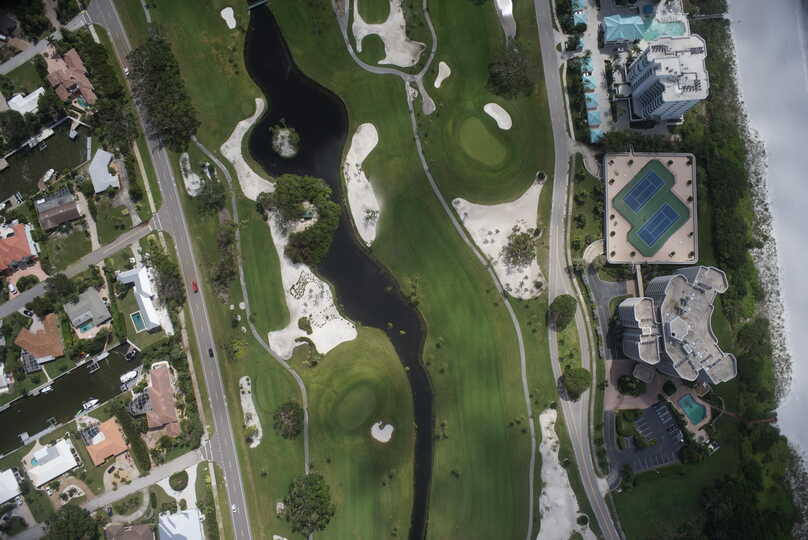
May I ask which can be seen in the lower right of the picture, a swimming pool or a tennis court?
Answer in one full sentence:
It is a swimming pool that can be seen in the lower right of the picture.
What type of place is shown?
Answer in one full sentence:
The picture captures a golf course.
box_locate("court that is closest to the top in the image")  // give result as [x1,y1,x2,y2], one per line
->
[623,170,664,212]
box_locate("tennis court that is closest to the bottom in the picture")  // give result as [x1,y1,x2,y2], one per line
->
[638,204,678,246]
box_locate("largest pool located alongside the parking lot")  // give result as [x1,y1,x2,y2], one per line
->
[676,392,709,426]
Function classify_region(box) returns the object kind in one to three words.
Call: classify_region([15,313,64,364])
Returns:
house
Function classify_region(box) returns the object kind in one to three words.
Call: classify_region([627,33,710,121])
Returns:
building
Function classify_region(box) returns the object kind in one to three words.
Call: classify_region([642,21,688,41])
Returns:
swimming pool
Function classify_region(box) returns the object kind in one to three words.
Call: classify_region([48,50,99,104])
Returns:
house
